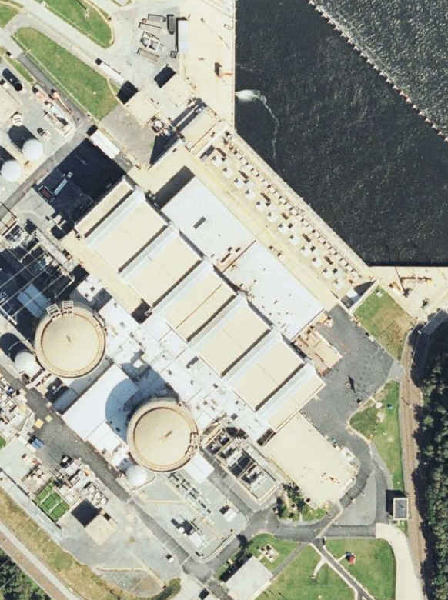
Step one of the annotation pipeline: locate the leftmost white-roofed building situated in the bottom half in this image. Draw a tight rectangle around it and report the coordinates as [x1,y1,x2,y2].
[0,438,34,489]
